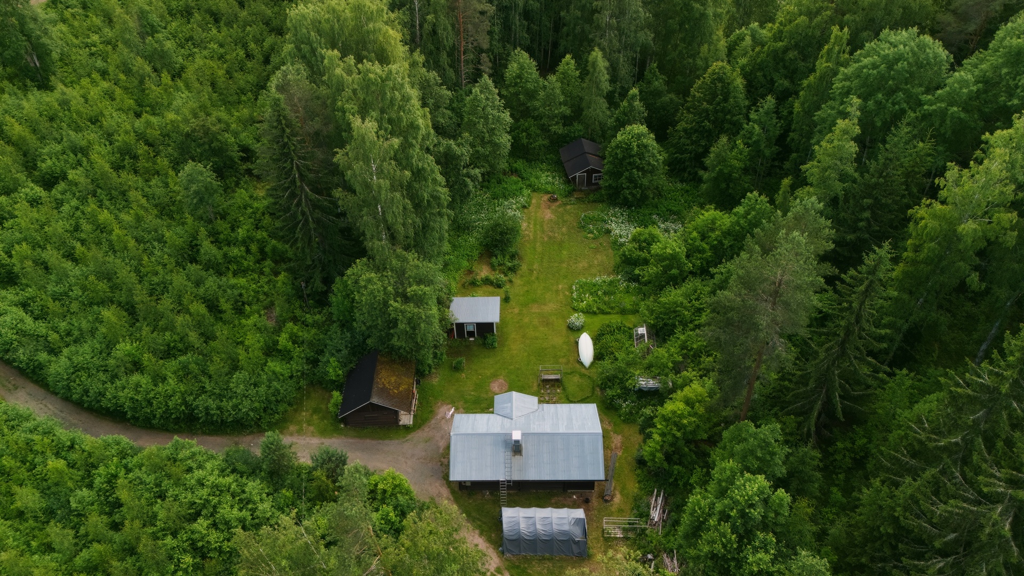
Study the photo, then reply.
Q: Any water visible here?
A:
No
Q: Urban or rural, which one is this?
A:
rural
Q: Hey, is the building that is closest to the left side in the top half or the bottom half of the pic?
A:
bottom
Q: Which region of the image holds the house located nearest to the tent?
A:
bottom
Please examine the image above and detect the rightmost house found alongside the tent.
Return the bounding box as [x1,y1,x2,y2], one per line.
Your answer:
[448,389,609,494]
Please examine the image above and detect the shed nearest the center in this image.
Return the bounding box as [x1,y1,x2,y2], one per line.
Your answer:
[451,296,500,342]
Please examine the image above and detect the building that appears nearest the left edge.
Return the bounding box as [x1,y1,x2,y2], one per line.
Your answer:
[337,343,417,425]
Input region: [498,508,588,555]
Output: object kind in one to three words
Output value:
tent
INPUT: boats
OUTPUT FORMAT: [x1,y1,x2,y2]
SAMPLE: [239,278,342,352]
[577,333,595,371]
